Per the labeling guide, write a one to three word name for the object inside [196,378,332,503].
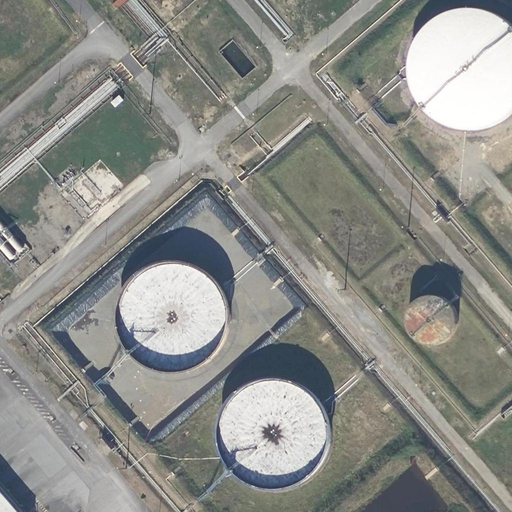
storage tank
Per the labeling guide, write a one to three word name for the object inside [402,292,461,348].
storage tank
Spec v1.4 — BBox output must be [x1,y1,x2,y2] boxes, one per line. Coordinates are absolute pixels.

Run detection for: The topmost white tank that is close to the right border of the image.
[401,8,512,133]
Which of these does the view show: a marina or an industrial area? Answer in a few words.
industrial area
